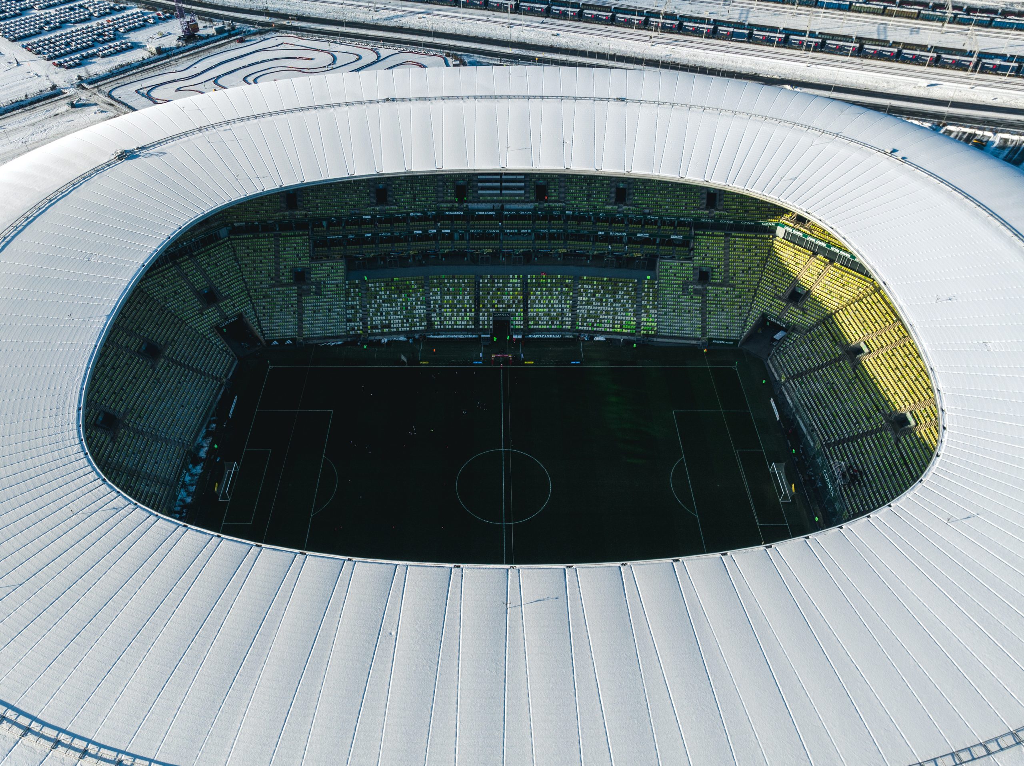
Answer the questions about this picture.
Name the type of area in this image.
sports ground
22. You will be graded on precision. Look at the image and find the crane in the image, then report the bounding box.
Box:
[167,0,204,43]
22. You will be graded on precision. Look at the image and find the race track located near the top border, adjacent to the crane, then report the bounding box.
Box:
[107,35,451,110]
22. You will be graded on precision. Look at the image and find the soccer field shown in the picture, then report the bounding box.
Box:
[168,316,841,565]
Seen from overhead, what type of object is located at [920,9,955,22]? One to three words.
rail car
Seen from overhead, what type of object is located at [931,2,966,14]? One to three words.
rail car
